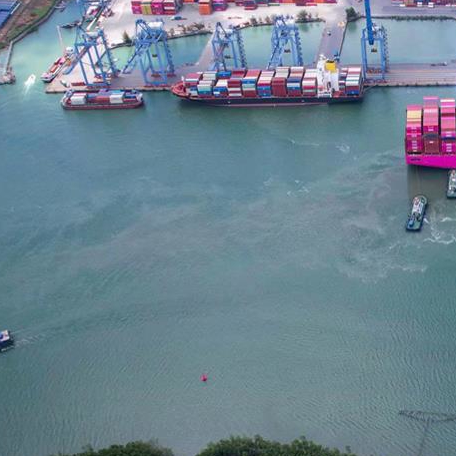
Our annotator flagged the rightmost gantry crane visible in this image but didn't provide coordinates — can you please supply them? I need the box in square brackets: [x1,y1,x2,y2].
[361,0,389,79]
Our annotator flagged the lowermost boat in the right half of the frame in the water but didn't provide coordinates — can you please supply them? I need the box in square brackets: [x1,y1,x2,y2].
[398,195,425,229]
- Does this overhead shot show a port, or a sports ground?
port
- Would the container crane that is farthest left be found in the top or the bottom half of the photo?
top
